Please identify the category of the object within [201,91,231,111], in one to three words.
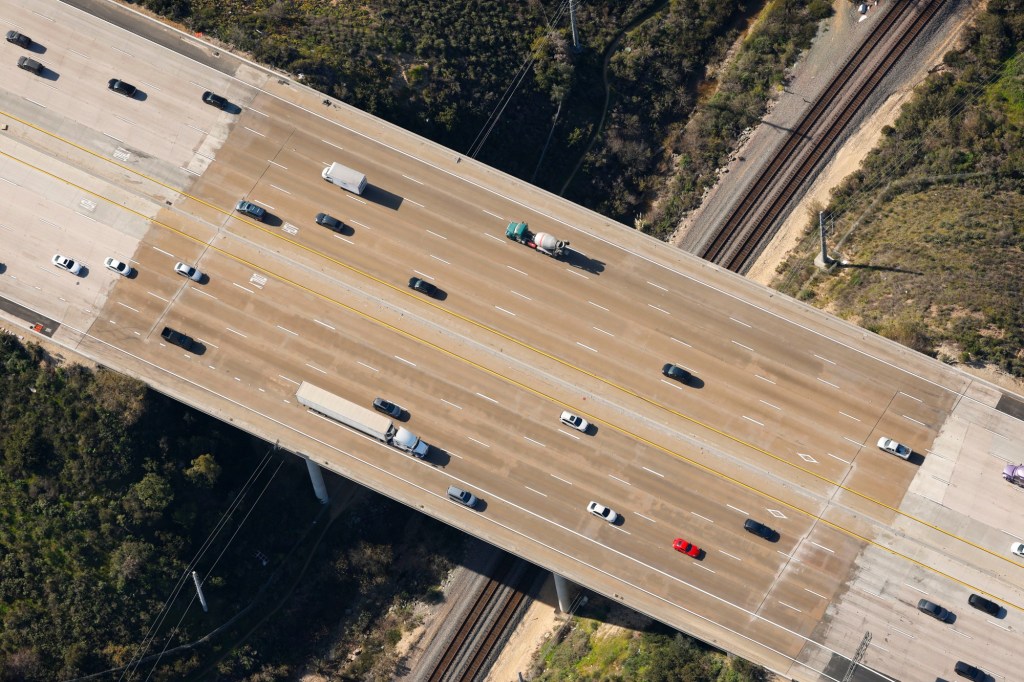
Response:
car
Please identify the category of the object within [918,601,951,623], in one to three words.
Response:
car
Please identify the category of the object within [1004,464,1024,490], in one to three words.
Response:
vehicle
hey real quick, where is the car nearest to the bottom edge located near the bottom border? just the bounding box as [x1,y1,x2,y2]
[952,661,986,682]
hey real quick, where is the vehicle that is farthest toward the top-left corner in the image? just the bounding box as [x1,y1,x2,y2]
[5,31,33,50]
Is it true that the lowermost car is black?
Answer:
Yes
